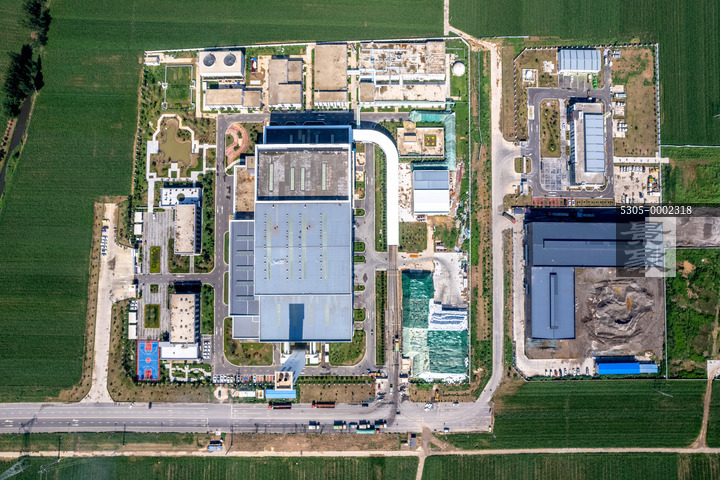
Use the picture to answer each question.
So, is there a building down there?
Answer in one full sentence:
Yes, there's a building down there.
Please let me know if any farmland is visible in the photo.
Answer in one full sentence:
Yes, farmland can be seen from above here.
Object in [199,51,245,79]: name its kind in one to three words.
cooling tower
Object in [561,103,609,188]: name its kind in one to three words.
building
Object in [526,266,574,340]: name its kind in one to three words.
shed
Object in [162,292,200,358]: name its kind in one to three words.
building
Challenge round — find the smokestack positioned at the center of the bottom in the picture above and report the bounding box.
[279,349,305,390]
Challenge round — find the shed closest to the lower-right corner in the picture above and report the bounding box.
[592,361,657,375]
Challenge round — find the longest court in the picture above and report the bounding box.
[137,340,159,381]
